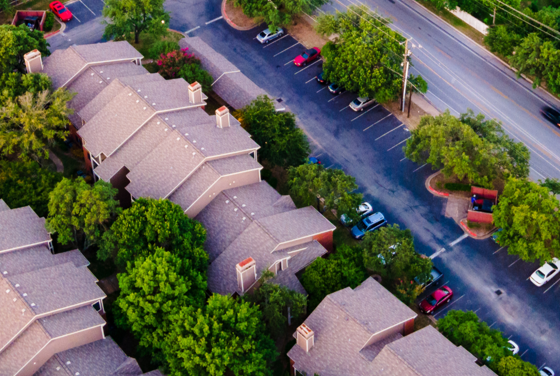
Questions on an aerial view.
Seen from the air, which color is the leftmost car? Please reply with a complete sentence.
From above, the leftmost car appears red.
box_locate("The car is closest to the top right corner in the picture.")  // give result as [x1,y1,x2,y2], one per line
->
[541,107,560,130]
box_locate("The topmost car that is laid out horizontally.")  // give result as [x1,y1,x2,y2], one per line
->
[256,28,284,42]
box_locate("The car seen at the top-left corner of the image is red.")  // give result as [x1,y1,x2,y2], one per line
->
[47,0,74,21]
